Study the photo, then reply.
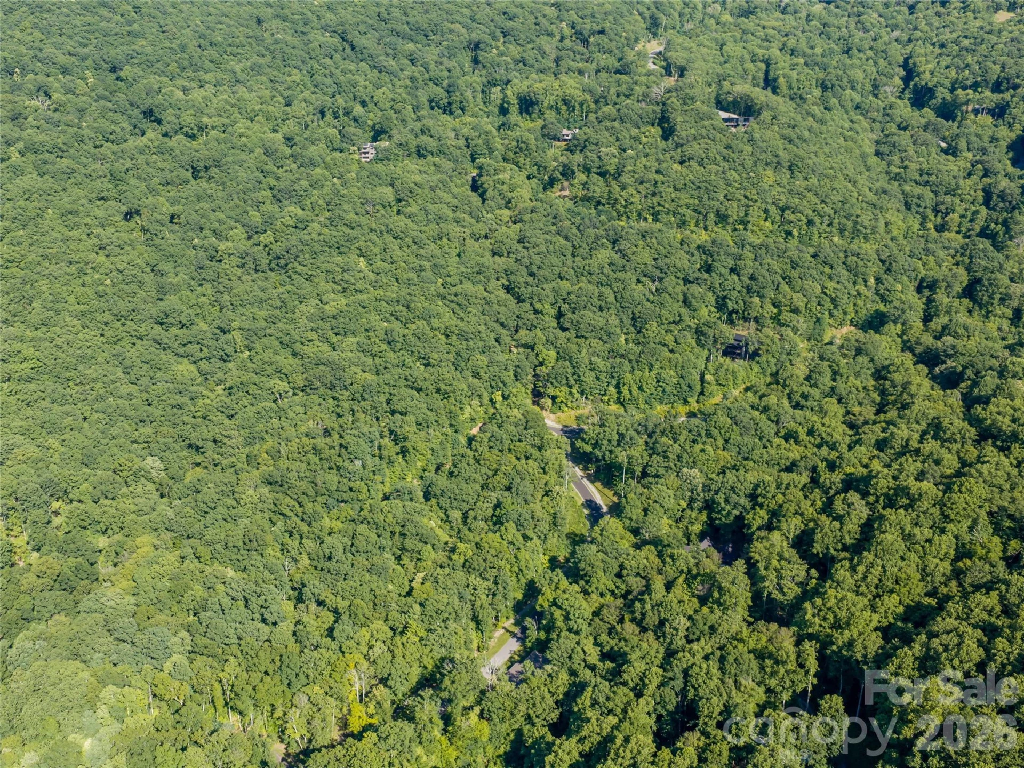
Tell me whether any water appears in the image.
No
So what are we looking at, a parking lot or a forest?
forest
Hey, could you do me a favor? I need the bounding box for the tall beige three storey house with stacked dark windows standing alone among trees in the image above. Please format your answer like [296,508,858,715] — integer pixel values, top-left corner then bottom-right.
[357,137,376,160]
